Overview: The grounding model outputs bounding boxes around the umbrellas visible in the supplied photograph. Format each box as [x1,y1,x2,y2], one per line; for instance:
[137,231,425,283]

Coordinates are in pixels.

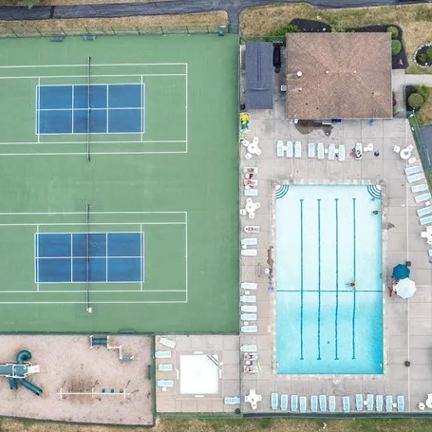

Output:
[394,277,416,298]
[391,262,410,280]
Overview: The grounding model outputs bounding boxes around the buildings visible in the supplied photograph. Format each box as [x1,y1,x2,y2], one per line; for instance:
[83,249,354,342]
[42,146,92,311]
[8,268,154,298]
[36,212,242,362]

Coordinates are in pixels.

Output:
[285,31,394,122]
[246,39,274,112]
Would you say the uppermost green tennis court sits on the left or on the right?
left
